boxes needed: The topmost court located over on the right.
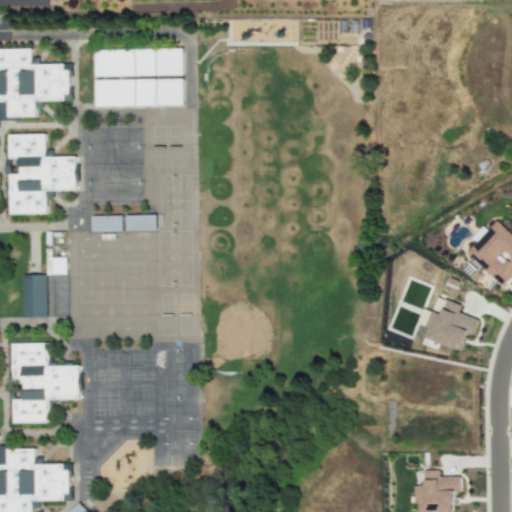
[404,281,430,308]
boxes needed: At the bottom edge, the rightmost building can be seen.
[414,470,462,512]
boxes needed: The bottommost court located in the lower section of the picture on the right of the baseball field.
[394,308,420,335]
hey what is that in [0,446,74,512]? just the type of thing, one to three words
building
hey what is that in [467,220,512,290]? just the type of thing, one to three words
house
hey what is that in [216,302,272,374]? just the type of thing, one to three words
baseball field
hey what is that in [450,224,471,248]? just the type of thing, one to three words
swimming pool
